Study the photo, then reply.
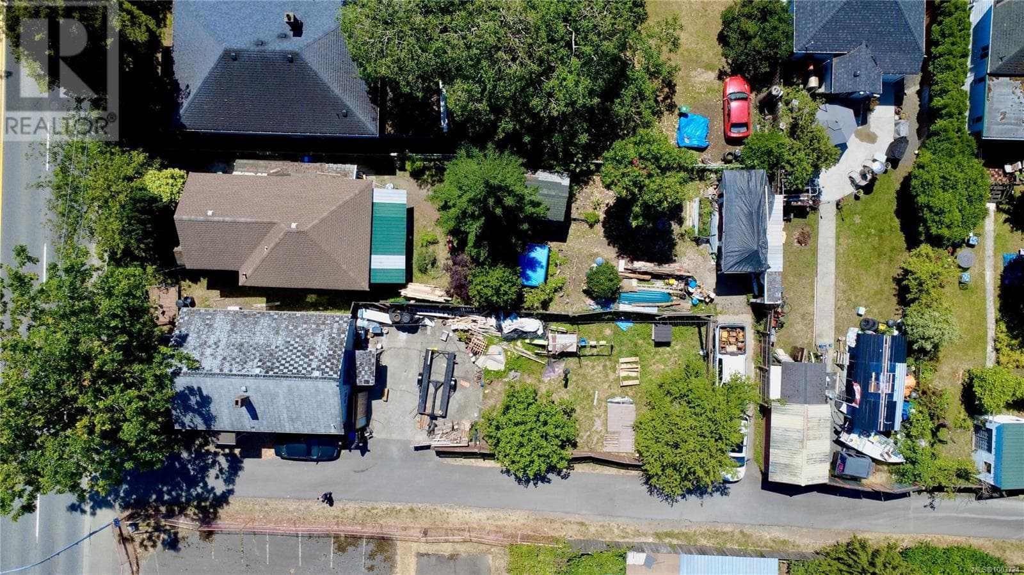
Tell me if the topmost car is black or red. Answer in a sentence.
The topmost car looks red in the image.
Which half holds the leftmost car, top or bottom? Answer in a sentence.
The leftmost car is in the bottom half of the image.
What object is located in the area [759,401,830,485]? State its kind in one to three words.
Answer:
shed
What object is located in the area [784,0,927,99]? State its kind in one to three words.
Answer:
house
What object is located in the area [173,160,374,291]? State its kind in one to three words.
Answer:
house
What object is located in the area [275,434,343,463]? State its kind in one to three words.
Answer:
car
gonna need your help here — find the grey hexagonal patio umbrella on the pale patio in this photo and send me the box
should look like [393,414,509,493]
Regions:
[817,104,857,147]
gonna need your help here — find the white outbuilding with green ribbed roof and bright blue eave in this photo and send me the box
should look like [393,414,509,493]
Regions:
[973,416,1024,490]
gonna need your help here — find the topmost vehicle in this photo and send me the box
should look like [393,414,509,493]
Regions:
[720,77,753,142]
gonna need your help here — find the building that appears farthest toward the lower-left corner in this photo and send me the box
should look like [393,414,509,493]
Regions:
[172,308,379,445]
